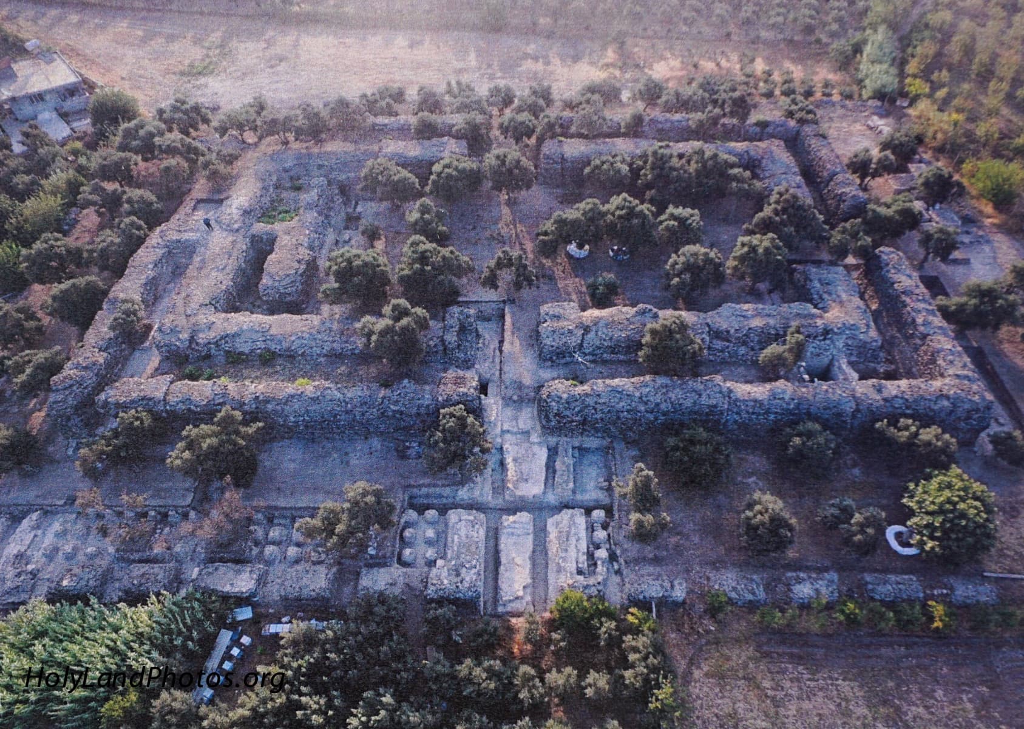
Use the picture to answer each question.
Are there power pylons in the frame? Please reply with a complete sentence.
No, the scene contains no power pylon.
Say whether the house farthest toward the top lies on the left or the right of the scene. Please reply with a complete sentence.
The house farthest toward the top is on the left side of the image.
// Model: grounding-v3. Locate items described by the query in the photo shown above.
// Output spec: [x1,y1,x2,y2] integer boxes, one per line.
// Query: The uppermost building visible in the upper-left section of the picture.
[0,56,86,130]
